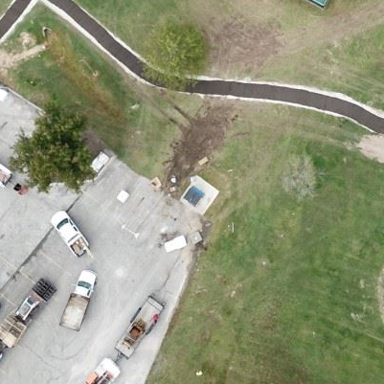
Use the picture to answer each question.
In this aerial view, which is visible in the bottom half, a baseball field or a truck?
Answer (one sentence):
You can see a truck in the bottom half.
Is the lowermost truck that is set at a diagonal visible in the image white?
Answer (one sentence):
Yes, white is the color of the lowermost truck that is set at a diagonal.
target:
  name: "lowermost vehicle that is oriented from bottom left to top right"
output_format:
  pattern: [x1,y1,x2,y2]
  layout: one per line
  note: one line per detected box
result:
[85,352,122,384]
